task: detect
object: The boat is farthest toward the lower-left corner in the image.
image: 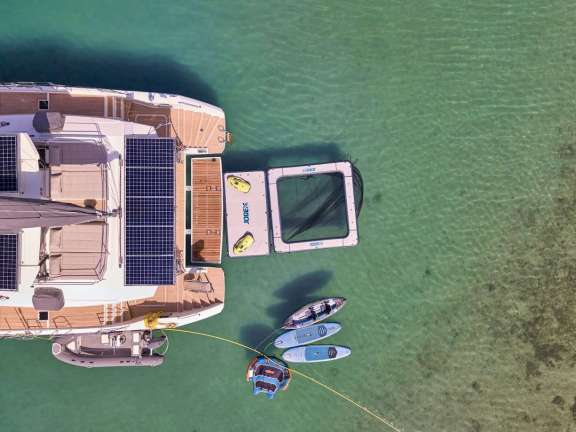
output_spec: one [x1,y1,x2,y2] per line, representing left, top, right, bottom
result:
[50,328,169,368]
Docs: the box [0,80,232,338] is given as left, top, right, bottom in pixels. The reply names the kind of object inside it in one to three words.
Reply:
boat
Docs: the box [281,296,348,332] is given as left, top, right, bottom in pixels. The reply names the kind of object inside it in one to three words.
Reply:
boat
